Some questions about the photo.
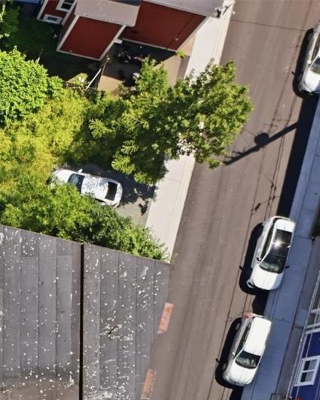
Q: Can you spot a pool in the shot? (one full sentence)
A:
No, I can't see a single pool in this photo.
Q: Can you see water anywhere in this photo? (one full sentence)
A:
No, the picture contains no water.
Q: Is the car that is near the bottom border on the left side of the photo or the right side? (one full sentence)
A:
The car that is near the bottom border appears in the right half of the scene.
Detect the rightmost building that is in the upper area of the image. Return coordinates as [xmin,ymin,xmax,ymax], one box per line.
[116,0,234,56]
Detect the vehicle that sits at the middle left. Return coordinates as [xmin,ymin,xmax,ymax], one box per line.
[48,164,125,212]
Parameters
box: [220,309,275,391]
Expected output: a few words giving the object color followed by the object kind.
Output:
white car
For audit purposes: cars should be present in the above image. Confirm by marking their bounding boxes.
[220,309,275,391]
[292,16,320,101]
[244,214,300,294]
[48,164,125,212]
